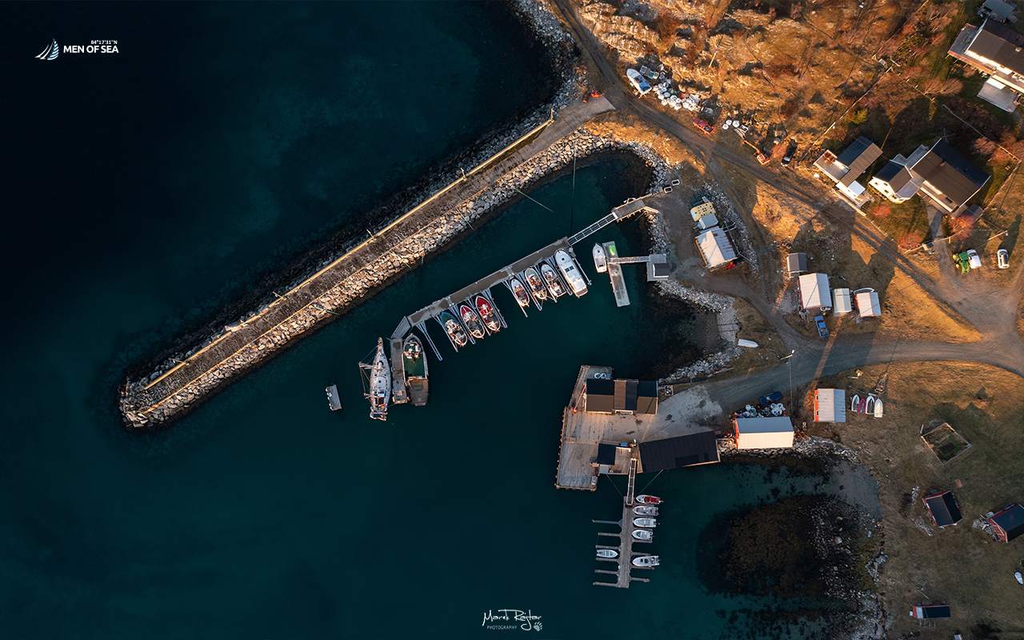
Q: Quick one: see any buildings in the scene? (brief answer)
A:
Yes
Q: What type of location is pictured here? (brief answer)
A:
port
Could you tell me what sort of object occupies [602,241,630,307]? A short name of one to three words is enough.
pier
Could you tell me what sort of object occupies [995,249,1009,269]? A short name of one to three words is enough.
car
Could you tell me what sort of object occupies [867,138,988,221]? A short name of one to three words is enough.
house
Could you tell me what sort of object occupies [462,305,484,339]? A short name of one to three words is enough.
boat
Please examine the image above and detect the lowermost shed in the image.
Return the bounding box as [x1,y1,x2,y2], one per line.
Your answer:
[906,604,950,620]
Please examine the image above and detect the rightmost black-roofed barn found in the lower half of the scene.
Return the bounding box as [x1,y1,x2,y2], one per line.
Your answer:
[980,500,1024,545]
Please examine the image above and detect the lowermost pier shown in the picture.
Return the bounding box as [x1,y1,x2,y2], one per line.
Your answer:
[591,496,655,590]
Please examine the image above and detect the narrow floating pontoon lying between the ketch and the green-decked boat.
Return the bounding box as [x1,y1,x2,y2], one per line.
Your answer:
[389,339,409,404]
